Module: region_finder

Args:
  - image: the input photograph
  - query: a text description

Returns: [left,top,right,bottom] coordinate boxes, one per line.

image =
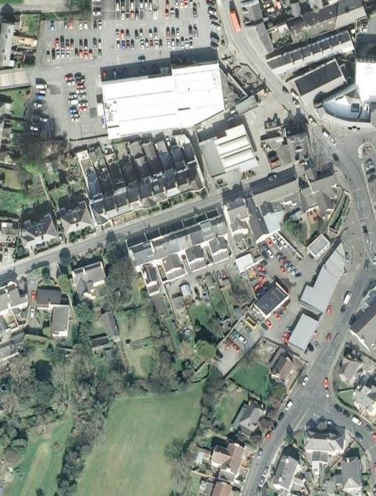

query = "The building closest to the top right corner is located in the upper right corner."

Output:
[327,0,368,36]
